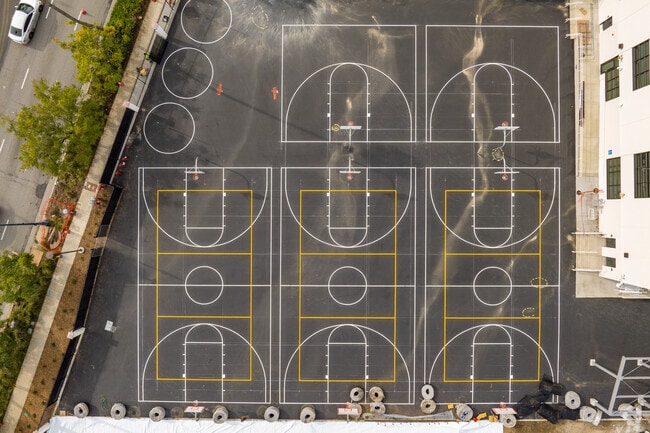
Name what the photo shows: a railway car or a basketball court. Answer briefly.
basketball court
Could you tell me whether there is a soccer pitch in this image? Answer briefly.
No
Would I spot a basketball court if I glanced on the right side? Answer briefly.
Yes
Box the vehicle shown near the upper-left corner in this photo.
[7,0,43,44]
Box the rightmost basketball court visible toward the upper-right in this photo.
[426,23,560,143]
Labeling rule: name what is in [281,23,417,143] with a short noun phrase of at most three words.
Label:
basketball court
